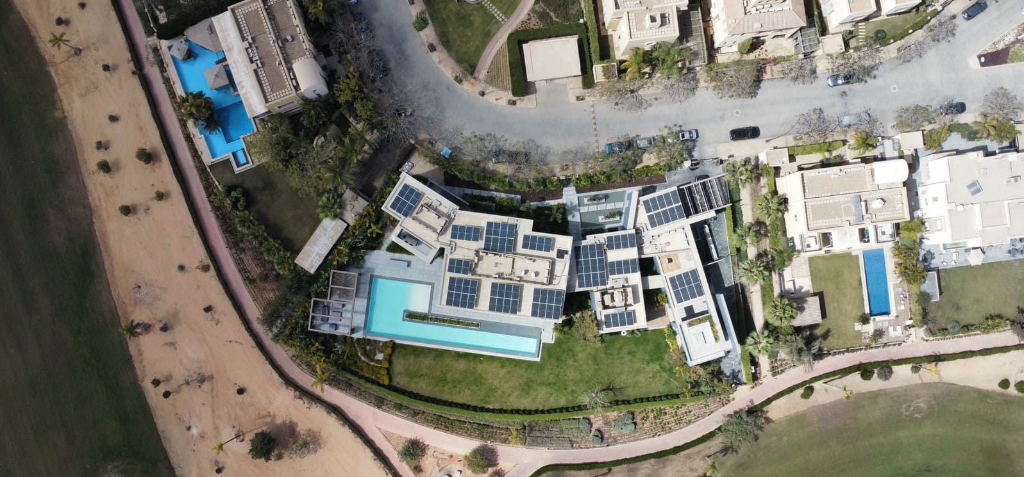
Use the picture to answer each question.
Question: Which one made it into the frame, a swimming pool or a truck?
swimming pool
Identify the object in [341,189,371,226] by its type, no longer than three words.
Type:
shed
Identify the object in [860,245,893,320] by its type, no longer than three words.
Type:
swimming pool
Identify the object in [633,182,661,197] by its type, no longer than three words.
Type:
car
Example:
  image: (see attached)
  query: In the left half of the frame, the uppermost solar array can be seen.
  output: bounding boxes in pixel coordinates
[390,184,422,217]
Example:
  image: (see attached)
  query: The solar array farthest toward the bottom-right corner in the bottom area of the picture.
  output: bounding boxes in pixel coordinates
[670,269,704,304]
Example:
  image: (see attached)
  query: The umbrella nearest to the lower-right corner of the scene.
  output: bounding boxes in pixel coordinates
[962,248,982,264]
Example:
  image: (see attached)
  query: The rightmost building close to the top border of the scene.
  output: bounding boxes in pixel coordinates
[856,0,923,30]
